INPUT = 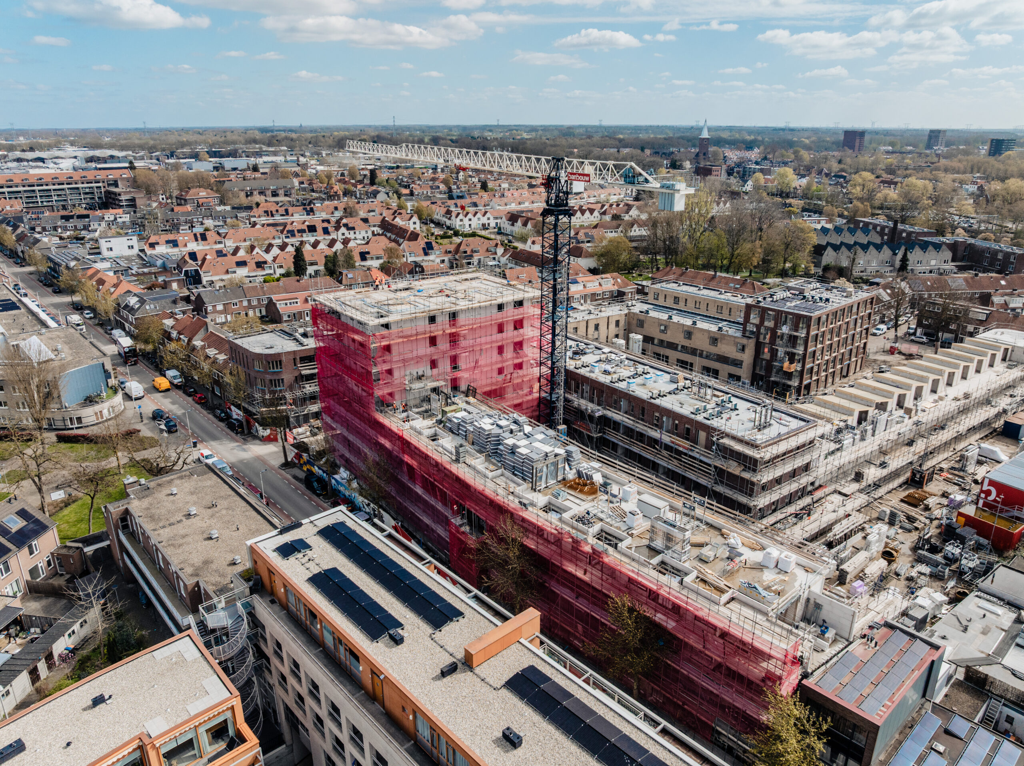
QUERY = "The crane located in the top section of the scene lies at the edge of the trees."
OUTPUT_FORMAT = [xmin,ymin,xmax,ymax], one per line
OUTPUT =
[342,139,703,438]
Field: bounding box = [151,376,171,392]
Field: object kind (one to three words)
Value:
vehicle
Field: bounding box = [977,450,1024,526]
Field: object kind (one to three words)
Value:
building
